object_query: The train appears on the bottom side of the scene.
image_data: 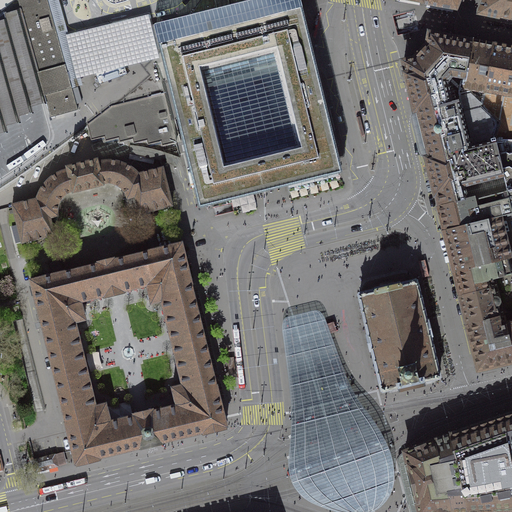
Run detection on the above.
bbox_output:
[232,323,245,390]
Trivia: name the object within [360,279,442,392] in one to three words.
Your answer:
building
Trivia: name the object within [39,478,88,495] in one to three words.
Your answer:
vehicle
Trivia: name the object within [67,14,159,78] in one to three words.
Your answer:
building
